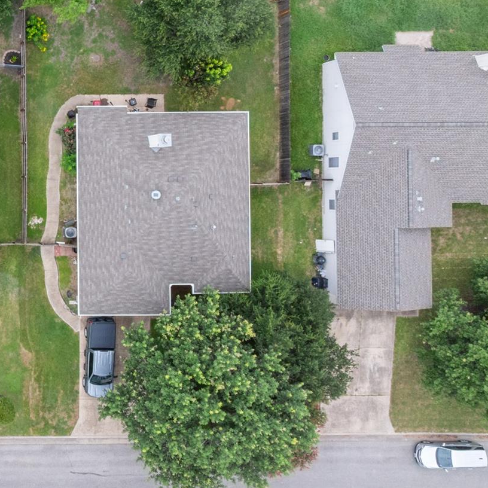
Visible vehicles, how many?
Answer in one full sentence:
The photo contains 2 vehicles.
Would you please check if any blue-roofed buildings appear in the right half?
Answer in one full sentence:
No, there's no blue-roofed building to be seen in the right half.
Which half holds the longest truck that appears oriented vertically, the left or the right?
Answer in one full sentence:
The longest truck that appears oriented vertically appears in the left half of the scene.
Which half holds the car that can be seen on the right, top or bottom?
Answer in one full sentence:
Seen from above, the car that can be seen on the right lies in the bottom half of the view.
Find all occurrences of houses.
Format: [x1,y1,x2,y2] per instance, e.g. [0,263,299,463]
[323,45,488,312]
[68,106,251,316]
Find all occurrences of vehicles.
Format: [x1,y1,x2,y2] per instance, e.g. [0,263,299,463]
[81,316,120,398]
[413,439,484,474]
